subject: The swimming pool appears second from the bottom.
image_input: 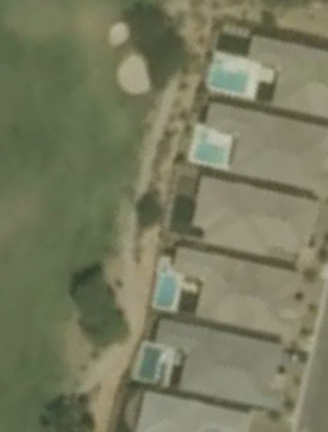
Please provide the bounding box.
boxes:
[153,257,198,314]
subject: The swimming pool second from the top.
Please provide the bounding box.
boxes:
[189,124,232,169]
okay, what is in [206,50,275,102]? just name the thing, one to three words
swimming pool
